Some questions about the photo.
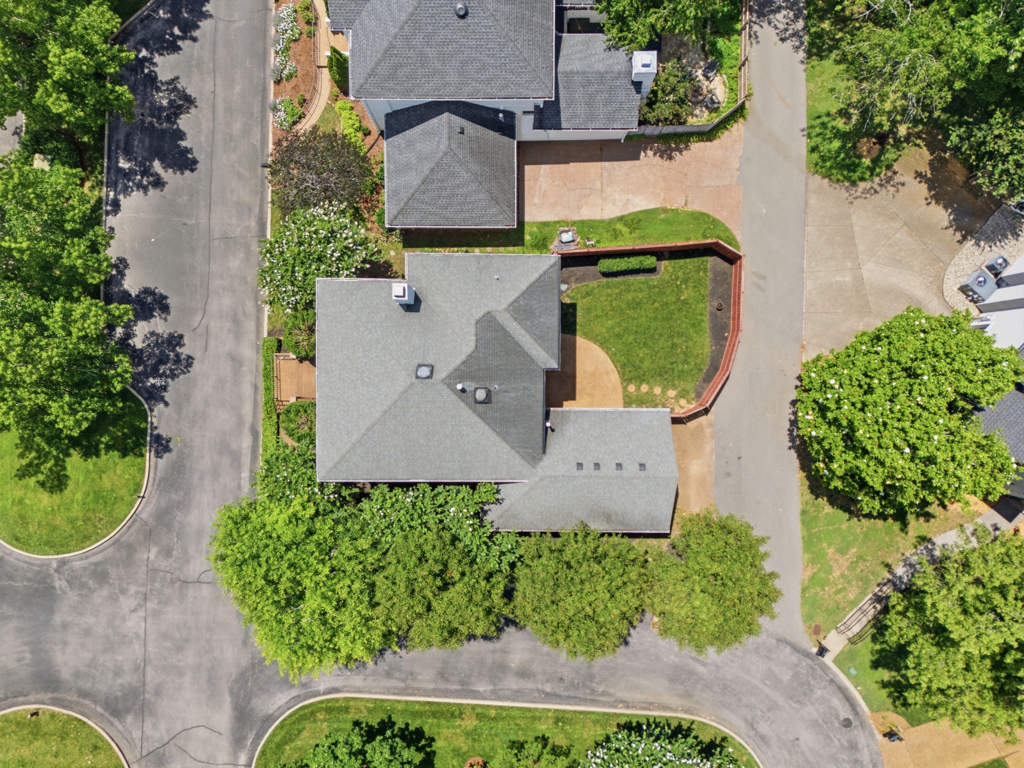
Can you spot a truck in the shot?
No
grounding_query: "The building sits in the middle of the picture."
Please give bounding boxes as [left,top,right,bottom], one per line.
[314,252,677,534]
